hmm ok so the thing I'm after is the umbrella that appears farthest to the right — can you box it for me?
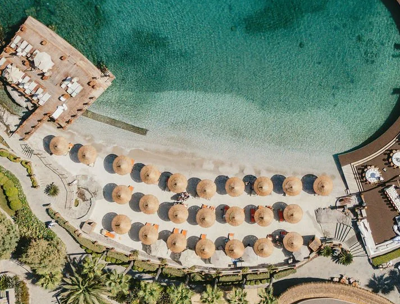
[312,175,334,195]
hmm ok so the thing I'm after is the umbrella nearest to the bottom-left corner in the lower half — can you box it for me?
[111,214,131,234]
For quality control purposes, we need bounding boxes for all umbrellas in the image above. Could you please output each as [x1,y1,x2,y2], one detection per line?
[225,177,245,196]
[112,185,131,204]
[225,206,245,225]
[166,232,187,254]
[254,238,274,258]
[291,243,311,262]
[149,238,169,258]
[112,155,133,175]
[111,214,131,234]
[240,245,261,265]
[179,247,199,267]
[167,173,188,193]
[312,175,334,195]
[254,206,274,227]
[253,176,273,196]
[196,208,216,228]
[225,239,245,259]
[139,224,158,245]
[197,179,216,199]
[140,164,161,184]
[139,194,160,214]
[78,145,98,165]
[283,204,303,224]
[196,239,216,259]
[210,248,229,268]
[49,136,70,156]
[283,231,303,252]
[169,204,189,224]
[282,176,302,196]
